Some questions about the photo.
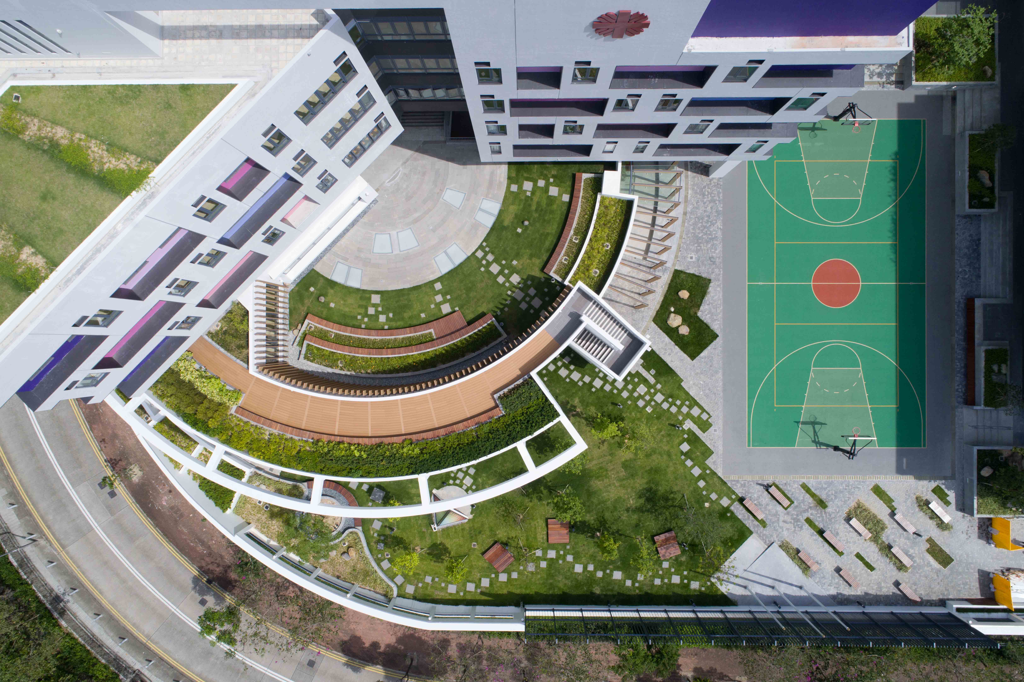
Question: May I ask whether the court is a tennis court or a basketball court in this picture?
basketball court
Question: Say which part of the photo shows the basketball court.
right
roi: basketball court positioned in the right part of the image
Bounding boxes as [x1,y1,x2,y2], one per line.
[748,119,926,447]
